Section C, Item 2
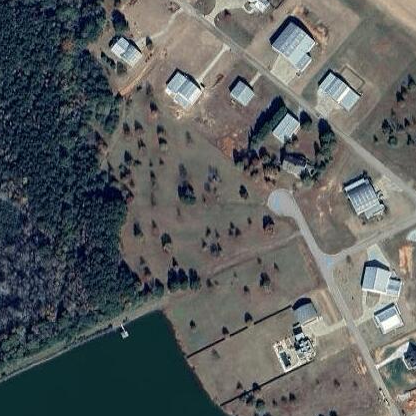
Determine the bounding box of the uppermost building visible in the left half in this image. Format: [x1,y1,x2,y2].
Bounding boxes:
[111,39,142,67]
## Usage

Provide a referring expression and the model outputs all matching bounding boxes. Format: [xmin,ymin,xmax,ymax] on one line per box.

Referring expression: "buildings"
[295,303,316,323]
[345,180,384,218]
[292,323,313,356]
[282,155,313,175]
[318,73,360,112]
[374,304,404,333]
[111,39,142,67]
[230,83,254,105]
[401,345,416,369]
[167,73,202,108]
[362,268,401,296]
[272,114,299,143]
[271,23,314,71]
